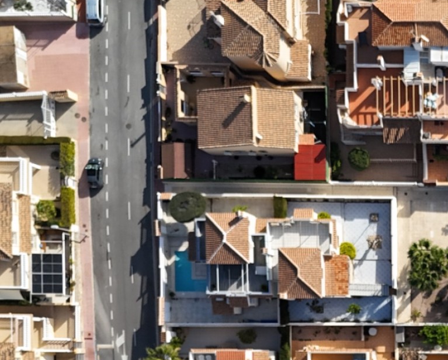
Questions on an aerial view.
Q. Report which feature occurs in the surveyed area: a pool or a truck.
pool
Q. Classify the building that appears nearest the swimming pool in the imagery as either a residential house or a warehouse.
residential house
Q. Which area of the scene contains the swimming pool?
bottom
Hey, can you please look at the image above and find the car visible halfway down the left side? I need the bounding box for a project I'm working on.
[87,159,104,189]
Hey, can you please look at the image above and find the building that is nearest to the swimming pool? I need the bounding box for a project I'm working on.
[188,209,292,315]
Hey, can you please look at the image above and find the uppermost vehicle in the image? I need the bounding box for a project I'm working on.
[87,0,105,28]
